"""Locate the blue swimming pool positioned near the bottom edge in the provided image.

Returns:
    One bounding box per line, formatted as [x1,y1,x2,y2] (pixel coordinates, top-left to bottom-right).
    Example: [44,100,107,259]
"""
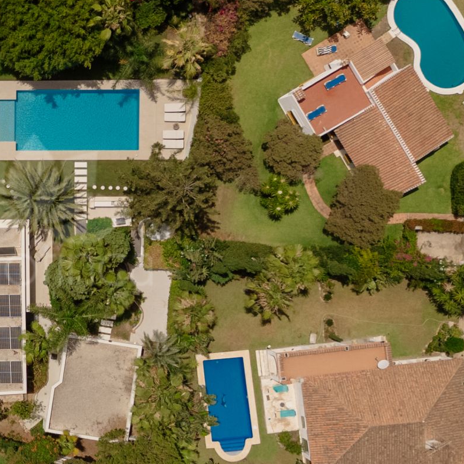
[196,350,261,462]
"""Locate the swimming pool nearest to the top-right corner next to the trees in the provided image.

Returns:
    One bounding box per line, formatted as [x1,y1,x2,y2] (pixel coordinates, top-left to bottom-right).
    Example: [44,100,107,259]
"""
[387,0,464,95]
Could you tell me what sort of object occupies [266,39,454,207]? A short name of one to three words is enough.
house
